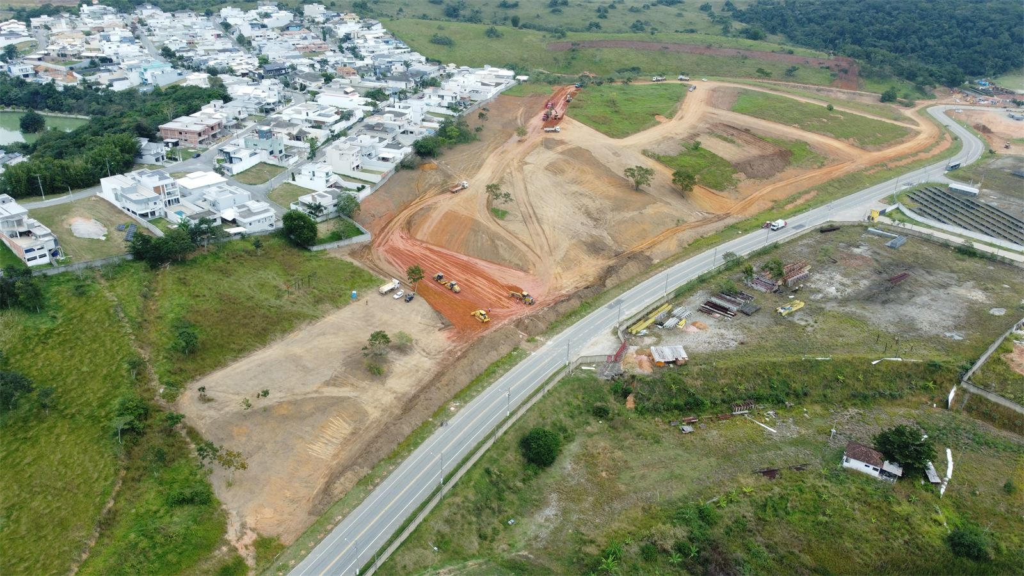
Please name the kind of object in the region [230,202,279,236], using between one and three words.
house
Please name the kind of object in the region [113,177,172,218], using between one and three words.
house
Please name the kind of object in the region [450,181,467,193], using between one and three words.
vehicle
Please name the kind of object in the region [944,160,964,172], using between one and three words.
vehicle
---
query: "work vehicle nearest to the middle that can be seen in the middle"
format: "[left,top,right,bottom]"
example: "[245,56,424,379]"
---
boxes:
[508,291,535,306]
